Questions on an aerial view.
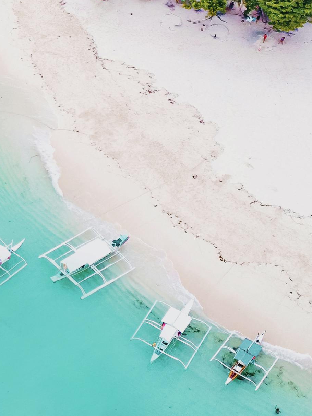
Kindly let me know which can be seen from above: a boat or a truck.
boat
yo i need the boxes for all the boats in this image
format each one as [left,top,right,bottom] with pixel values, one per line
[210,331,278,390]
[130,298,212,369]
[38,227,135,298]
[0,239,28,285]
